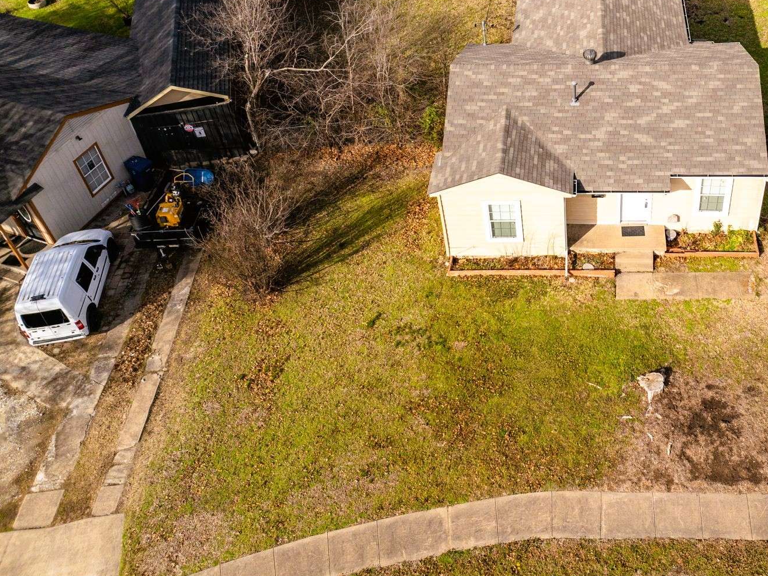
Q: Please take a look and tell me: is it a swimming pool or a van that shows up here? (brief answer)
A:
van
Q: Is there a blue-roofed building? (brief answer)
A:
No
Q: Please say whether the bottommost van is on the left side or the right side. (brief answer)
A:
left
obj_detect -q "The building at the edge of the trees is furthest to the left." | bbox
[0,4,139,280]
